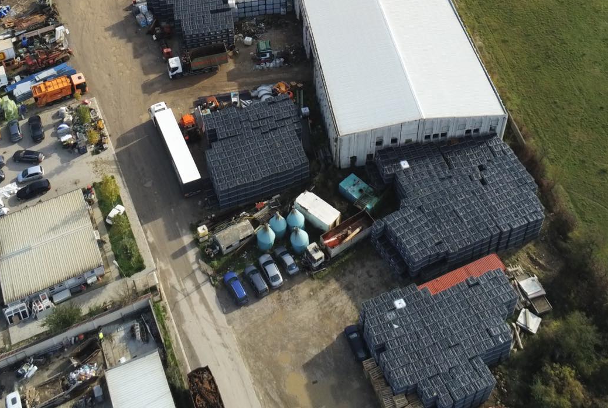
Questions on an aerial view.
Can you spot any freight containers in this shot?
Yes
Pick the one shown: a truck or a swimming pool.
truck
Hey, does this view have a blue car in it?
Yes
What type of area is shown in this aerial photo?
industrial area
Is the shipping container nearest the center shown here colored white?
Yes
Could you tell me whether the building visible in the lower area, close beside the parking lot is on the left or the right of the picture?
left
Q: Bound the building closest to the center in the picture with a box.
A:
[341,177,384,212]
